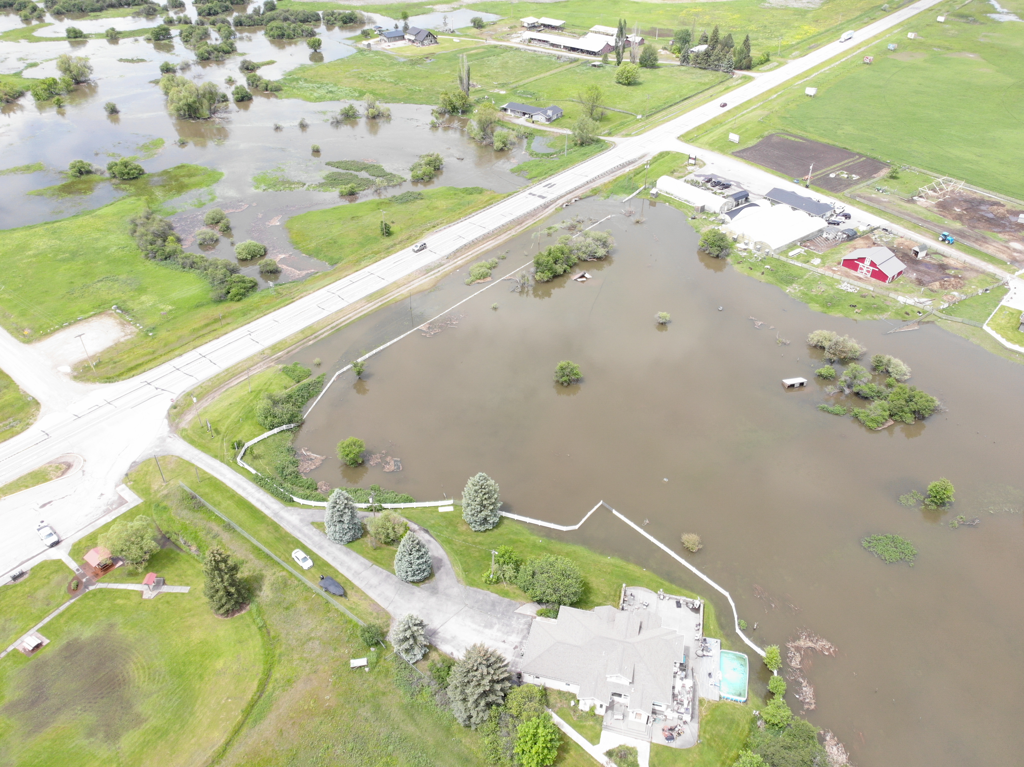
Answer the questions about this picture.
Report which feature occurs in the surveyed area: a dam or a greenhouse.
greenhouse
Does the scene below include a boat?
Yes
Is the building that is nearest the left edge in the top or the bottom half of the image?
bottom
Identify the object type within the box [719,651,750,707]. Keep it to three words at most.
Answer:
swimming pool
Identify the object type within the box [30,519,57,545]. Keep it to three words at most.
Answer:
truck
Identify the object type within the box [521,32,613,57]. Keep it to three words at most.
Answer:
barn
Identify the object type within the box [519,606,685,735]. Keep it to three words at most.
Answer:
house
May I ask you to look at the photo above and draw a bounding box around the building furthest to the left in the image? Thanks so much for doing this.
[69,532,115,571]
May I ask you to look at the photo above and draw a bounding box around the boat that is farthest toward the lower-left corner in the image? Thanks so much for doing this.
[317,569,348,596]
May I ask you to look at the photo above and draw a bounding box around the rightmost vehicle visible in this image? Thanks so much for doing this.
[940,231,959,246]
